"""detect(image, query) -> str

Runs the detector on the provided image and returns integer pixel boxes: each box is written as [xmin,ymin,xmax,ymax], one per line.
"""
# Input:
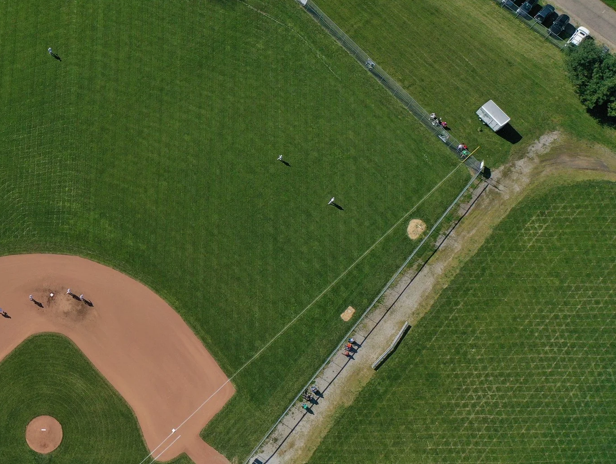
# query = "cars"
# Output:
[548,10,572,35]
[502,0,516,7]
[518,0,540,18]
[564,24,589,48]
[533,0,558,24]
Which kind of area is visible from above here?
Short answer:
sports ground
